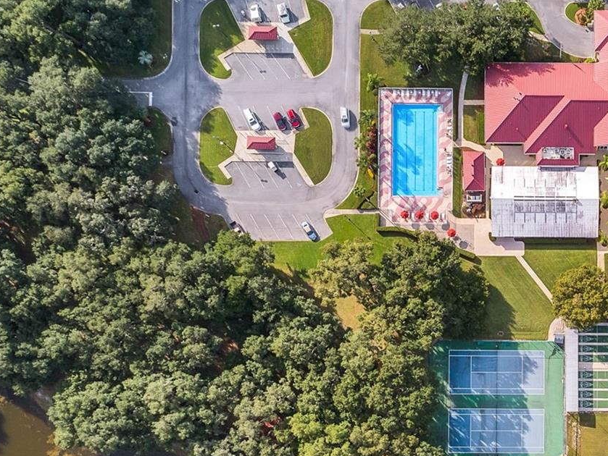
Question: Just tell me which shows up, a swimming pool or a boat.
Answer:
swimming pool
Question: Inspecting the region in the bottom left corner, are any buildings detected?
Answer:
No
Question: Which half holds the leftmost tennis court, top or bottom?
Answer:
bottom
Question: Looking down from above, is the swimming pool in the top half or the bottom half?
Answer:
top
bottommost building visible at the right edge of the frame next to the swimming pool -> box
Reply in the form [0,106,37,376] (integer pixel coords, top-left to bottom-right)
[489,166,600,238]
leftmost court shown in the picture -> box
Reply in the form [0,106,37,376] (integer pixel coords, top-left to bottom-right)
[430,342,564,456]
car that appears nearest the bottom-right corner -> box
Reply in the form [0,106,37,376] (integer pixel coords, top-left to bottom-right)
[302,221,318,239]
